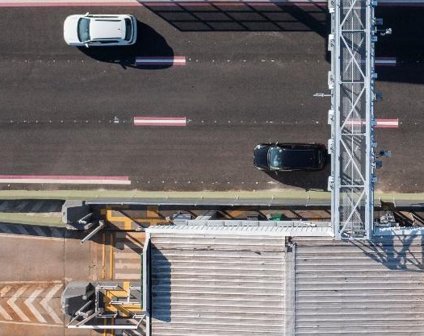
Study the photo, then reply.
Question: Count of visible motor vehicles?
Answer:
2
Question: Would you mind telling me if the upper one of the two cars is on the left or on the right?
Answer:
left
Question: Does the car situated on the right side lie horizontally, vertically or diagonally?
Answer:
horizontally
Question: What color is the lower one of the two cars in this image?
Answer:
black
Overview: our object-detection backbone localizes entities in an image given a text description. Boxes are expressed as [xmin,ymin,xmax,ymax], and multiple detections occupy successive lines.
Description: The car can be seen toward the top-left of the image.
[63,11,138,49]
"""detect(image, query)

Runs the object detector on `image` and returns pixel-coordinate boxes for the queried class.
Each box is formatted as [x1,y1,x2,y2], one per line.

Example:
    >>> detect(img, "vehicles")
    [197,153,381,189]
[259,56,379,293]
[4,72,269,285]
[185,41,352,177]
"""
[63,11,138,49]
[253,139,326,176]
